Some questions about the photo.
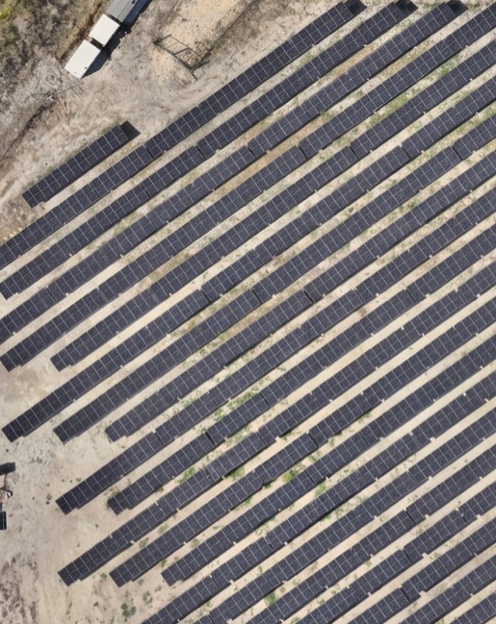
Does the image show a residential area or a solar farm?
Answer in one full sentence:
It's a solar farm.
